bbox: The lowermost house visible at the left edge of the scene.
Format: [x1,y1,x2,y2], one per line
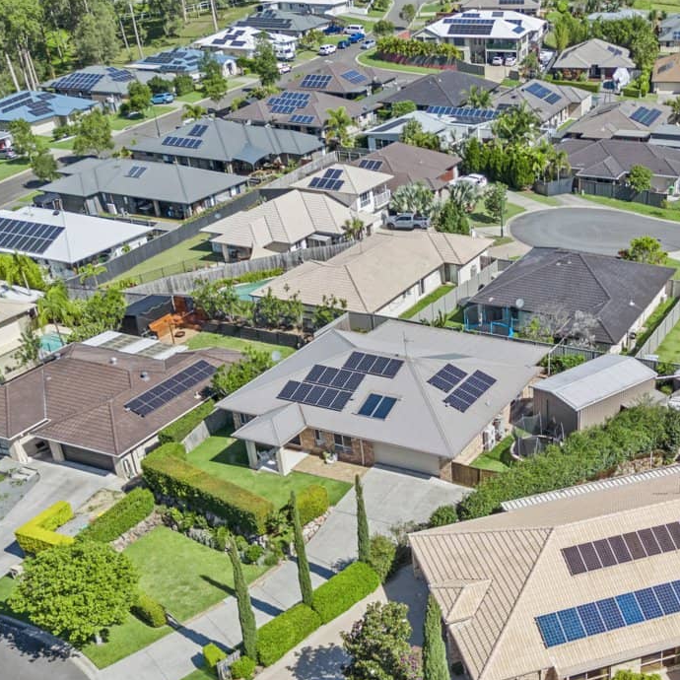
[0,342,252,486]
